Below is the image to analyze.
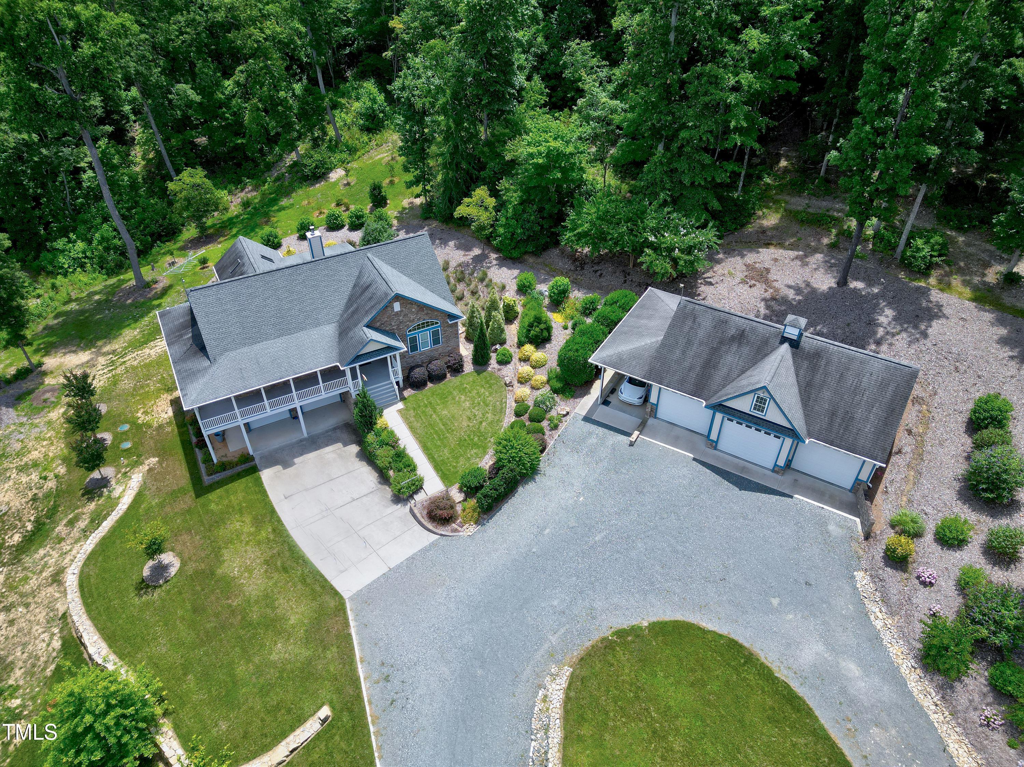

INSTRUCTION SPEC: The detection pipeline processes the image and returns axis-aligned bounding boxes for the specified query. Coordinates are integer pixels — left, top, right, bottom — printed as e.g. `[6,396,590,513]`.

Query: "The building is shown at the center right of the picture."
[585,288,923,494]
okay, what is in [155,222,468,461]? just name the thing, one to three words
house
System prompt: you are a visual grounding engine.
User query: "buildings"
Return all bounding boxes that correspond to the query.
[585,288,923,494]
[155,222,468,461]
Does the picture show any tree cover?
Yes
